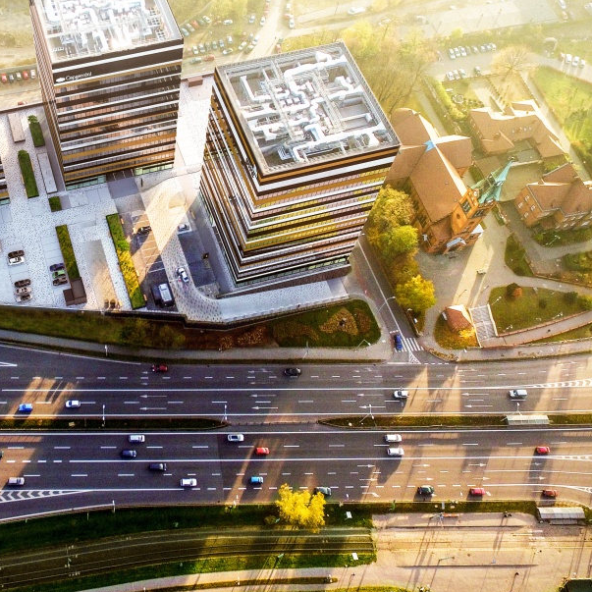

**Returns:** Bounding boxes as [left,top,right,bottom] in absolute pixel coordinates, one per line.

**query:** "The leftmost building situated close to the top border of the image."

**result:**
[30,0,183,189]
